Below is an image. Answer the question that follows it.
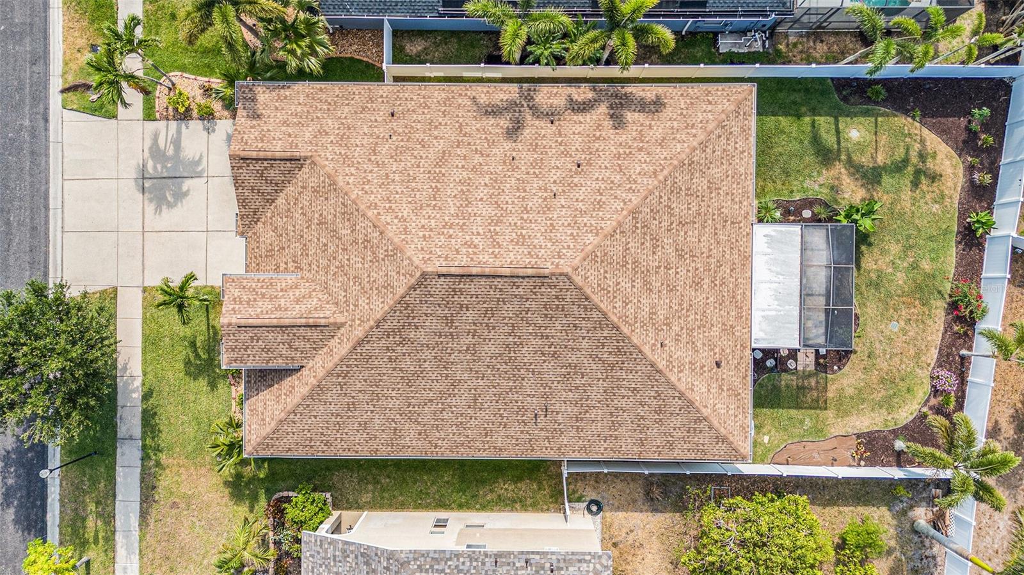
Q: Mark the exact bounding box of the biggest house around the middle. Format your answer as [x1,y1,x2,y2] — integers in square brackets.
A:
[218,80,758,461]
